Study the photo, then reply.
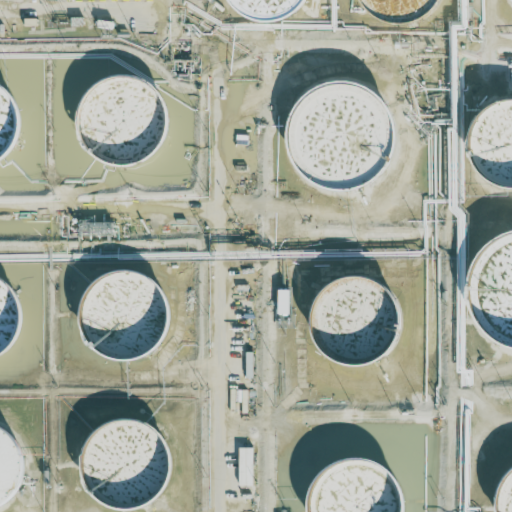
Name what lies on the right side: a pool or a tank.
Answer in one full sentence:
Visible on the right side is a tank.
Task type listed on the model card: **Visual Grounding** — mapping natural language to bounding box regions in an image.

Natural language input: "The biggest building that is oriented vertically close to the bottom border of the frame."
[239,448,253,487]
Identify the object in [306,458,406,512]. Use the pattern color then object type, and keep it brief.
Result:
white storage tank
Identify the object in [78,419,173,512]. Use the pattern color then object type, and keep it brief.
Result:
white storage tank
